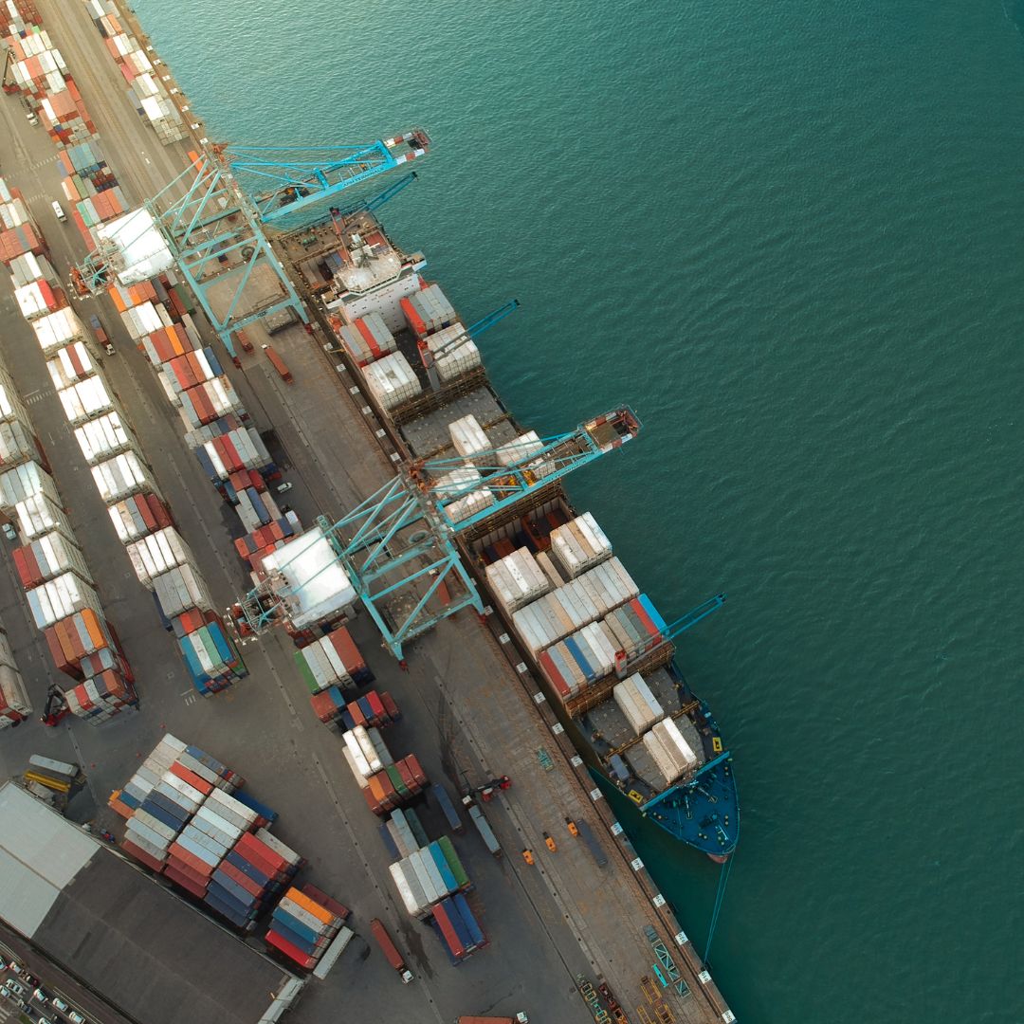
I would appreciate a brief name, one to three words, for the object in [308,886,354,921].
shipping container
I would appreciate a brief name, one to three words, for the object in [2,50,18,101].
work vehicle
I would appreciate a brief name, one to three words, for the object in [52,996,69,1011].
car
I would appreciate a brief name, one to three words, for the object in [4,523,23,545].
vehicle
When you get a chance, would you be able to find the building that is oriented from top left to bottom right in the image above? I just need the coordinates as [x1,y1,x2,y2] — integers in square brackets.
[0,769,310,1024]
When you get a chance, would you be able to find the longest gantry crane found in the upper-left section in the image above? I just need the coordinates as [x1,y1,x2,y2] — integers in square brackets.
[61,120,433,359]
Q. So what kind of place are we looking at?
port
